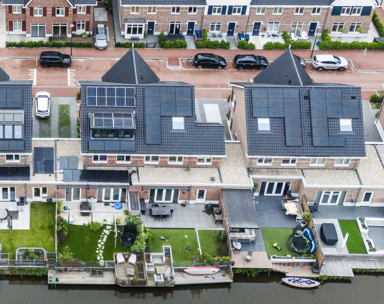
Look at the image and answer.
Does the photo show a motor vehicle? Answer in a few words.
Yes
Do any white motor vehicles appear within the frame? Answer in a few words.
Yes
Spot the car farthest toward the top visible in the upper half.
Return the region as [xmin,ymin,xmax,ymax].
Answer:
[94,26,109,49]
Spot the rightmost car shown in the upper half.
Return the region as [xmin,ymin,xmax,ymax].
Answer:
[311,53,349,70]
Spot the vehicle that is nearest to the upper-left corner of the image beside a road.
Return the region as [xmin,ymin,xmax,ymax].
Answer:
[39,50,73,67]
